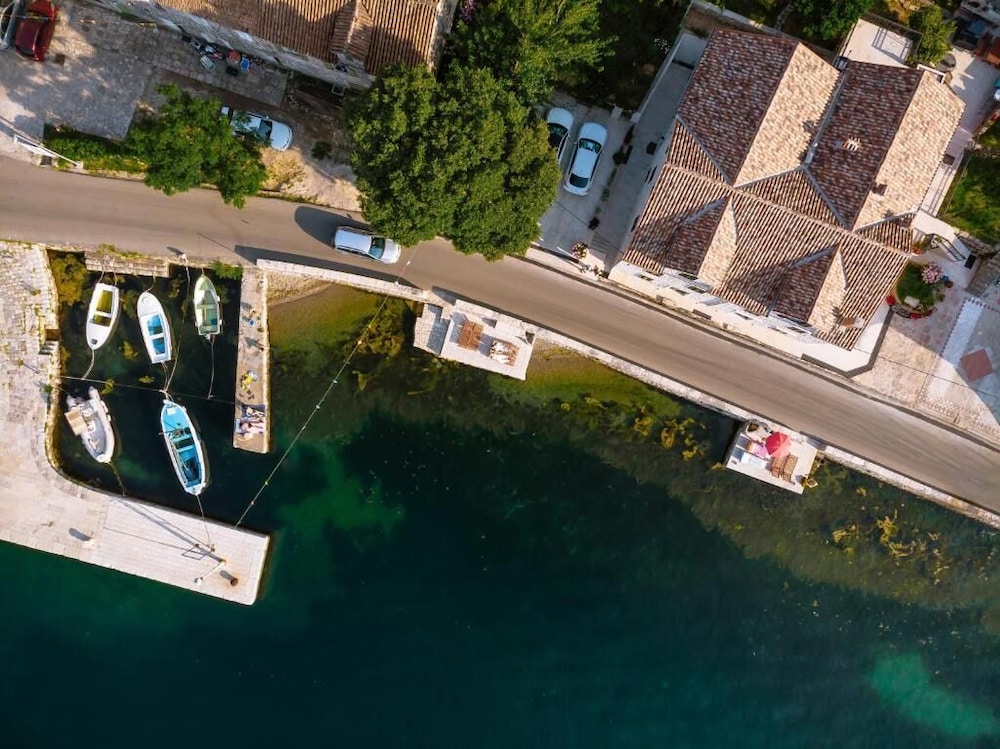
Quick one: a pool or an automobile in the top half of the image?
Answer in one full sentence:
The one visible in the top half of the image is an automobile.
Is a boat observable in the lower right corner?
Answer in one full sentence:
No, I can find no boat in the lower right corner.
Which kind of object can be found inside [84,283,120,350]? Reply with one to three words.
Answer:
boat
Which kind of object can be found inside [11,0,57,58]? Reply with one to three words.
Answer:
car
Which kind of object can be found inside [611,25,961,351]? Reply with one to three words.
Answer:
house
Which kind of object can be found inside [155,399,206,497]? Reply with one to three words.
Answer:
boat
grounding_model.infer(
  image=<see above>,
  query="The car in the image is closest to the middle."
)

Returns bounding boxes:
[329,223,401,264]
